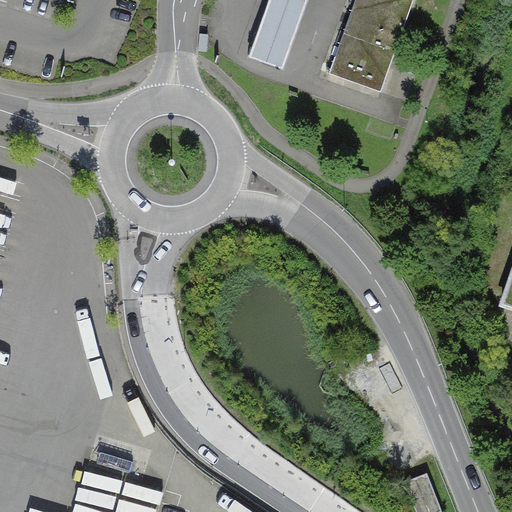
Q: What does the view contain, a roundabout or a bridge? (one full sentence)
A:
There is a roundabout in the scene.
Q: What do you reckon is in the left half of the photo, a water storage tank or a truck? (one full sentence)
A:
There is a truck in the left half of the photo.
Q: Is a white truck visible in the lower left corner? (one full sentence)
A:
Yes, a white truck is visible in the lower left corner.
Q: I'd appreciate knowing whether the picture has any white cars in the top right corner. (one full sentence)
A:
No, there's no white car to be seen in the top right corner.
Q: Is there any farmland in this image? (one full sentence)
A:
No, the picture contains no farmland.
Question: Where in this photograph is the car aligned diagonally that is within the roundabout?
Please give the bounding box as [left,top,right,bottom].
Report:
[129,189,151,212]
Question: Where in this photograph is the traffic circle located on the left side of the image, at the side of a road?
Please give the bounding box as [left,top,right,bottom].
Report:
[96,84,248,236]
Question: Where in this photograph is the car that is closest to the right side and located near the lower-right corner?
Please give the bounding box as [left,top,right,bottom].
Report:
[466,464,481,488]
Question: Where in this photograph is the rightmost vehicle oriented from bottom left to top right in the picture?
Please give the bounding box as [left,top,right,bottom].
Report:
[152,240,172,261]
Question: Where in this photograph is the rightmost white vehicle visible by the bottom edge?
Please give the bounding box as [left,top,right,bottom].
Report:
[216,492,251,512]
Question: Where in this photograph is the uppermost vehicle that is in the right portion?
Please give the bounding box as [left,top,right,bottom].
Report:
[364,288,382,312]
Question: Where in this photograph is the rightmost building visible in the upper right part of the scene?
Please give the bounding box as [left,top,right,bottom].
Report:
[330,0,420,90]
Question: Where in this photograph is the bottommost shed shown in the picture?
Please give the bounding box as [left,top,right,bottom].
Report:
[410,474,442,512]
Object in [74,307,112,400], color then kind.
white truck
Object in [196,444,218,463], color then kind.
white car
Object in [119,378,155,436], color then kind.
white truck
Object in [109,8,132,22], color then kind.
gray car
